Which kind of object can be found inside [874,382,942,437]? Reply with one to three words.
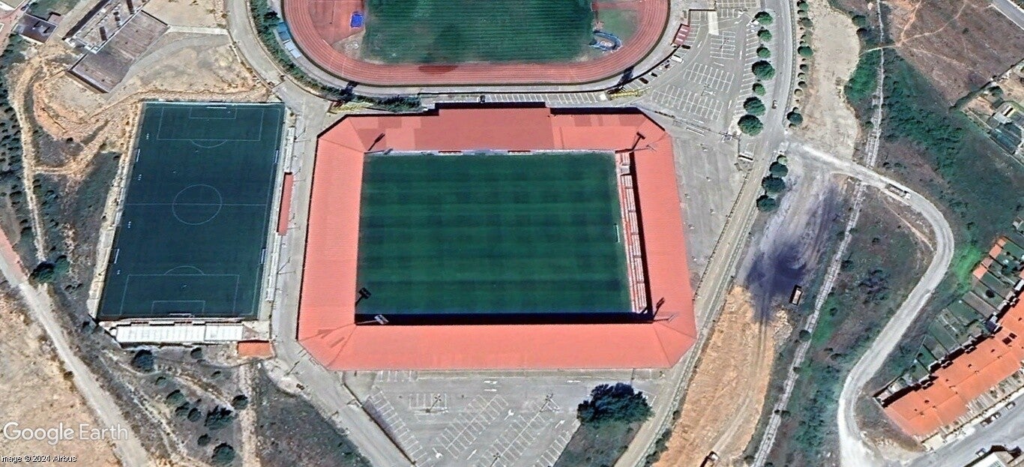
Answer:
house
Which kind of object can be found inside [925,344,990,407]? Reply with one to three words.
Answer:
house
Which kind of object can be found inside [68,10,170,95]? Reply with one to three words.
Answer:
building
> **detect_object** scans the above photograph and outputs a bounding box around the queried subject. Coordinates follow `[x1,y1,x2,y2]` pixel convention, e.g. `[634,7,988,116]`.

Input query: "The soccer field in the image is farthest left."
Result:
[97,103,285,320]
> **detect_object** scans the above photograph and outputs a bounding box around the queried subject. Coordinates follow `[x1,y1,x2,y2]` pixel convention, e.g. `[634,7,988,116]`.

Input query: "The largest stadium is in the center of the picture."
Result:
[294,108,696,370]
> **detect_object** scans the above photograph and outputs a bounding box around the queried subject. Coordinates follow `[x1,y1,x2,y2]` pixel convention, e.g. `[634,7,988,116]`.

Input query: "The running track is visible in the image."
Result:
[284,0,668,85]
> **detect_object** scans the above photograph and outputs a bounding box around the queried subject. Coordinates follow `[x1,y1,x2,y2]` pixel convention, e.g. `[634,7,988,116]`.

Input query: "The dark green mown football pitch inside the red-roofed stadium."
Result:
[357,156,633,323]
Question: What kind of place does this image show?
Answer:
sports ground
